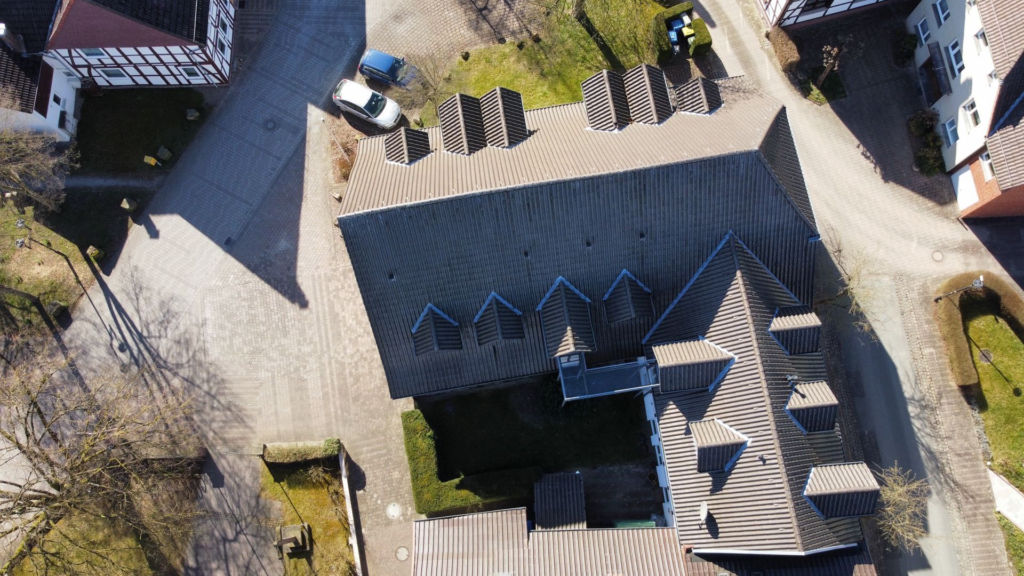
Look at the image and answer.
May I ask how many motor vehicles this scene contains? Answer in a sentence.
The photo contains 2 motor vehicles.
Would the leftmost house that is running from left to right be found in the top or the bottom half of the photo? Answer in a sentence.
The leftmost house that is running from left to right sits in the top half of the picture.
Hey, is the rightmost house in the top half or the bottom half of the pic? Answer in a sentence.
It is in the top half that the rightmost house appears.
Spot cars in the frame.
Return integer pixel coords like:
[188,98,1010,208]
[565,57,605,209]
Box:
[329,80,407,132]
[352,47,424,99]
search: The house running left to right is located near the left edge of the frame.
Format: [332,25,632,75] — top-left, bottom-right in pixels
[39,0,235,84]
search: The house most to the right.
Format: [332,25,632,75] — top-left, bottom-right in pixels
[899,0,1024,215]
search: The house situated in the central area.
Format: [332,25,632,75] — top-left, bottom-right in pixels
[337,62,882,561]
